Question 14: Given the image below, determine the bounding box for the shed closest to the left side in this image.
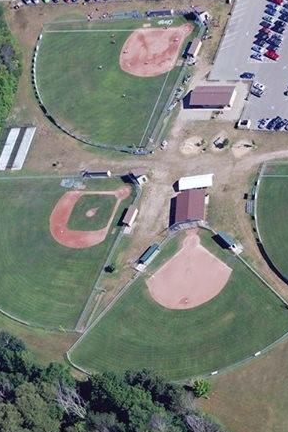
[0,128,21,172]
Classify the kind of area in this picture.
sports ground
